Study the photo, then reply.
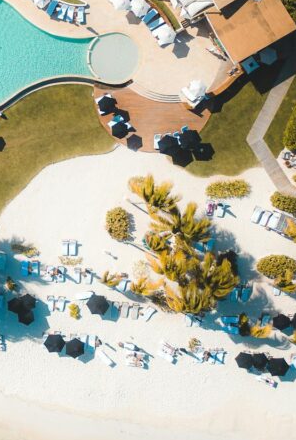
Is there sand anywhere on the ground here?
Yes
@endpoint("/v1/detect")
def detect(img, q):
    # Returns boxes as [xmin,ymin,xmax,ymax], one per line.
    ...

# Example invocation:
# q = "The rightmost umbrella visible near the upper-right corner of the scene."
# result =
[256,47,279,68]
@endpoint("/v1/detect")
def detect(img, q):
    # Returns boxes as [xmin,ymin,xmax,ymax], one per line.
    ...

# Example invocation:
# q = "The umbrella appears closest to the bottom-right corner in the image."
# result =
[269,356,289,378]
